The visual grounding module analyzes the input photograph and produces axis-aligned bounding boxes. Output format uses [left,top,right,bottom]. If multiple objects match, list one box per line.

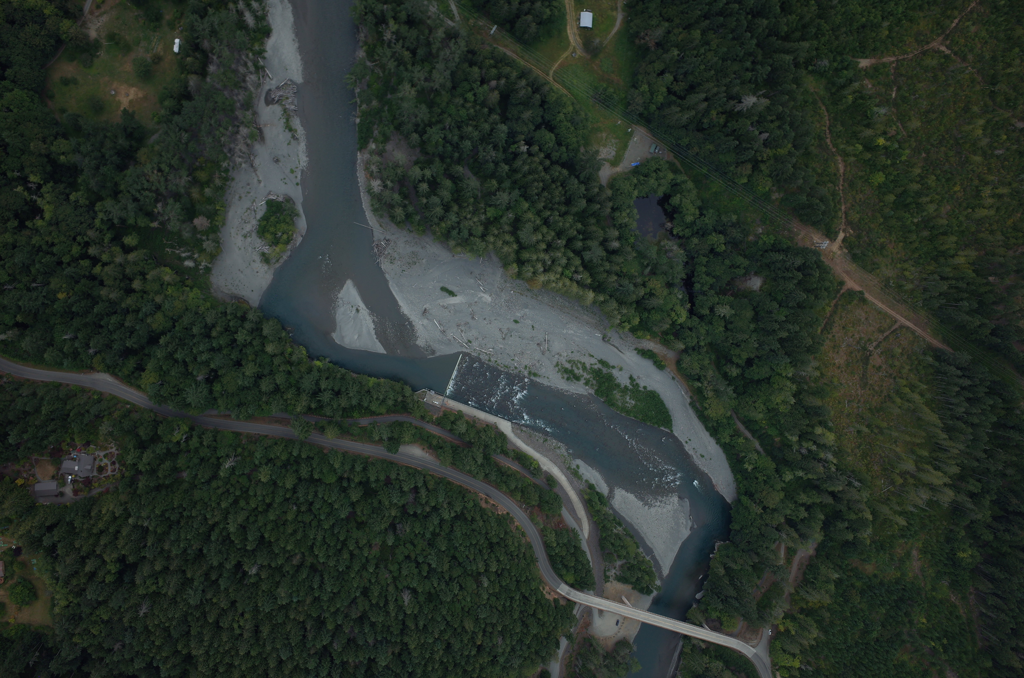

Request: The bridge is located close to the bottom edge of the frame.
[556,582,756,660]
